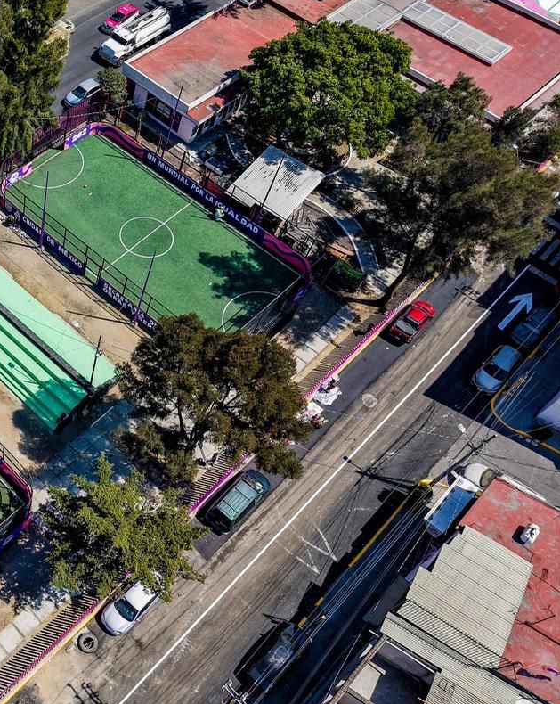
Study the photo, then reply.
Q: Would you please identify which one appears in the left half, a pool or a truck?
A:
truck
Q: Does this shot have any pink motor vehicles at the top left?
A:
Yes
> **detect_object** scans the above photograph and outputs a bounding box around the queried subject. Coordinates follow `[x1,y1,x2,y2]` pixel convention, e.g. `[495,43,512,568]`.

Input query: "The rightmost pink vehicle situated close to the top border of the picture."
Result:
[98,4,141,33]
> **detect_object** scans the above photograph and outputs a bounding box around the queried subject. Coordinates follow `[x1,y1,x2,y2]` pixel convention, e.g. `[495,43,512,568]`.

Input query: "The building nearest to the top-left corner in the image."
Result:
[120,0,305,153]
